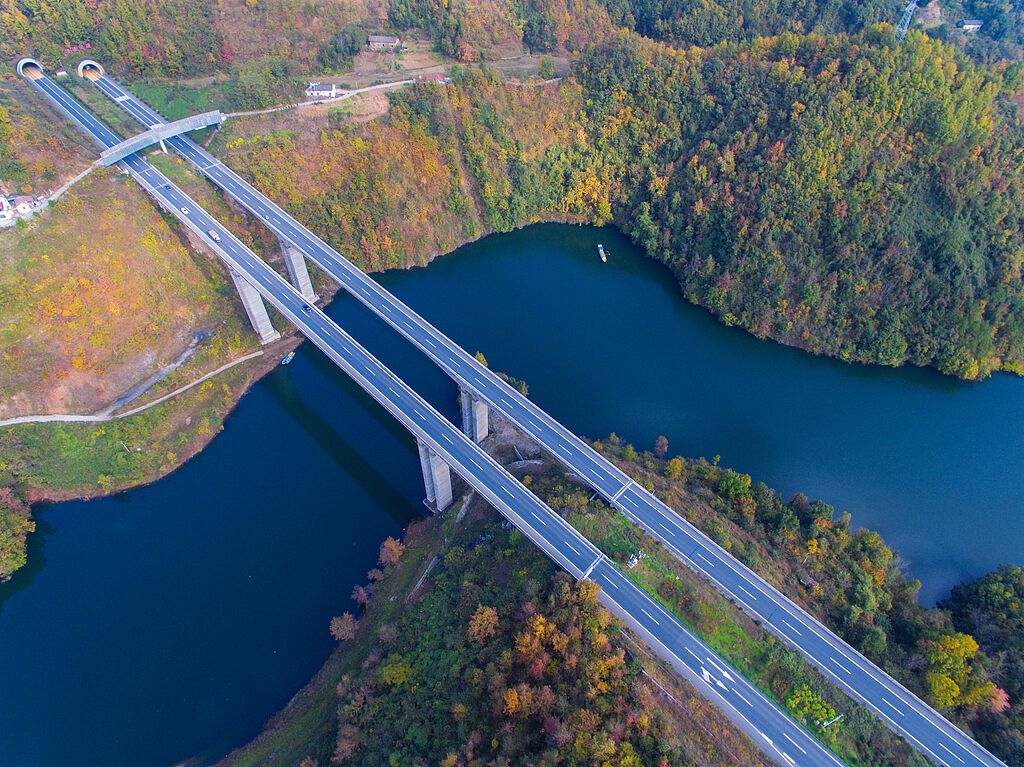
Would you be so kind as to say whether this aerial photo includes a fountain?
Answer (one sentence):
No, the scene contains no fountain.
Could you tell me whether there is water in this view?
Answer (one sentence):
Yes, water shows up in the scene.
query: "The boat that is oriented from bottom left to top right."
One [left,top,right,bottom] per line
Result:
[282,351,297,365]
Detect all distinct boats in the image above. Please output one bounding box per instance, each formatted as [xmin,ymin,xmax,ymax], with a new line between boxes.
[597,244,611,262]
[282,351,297,365]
